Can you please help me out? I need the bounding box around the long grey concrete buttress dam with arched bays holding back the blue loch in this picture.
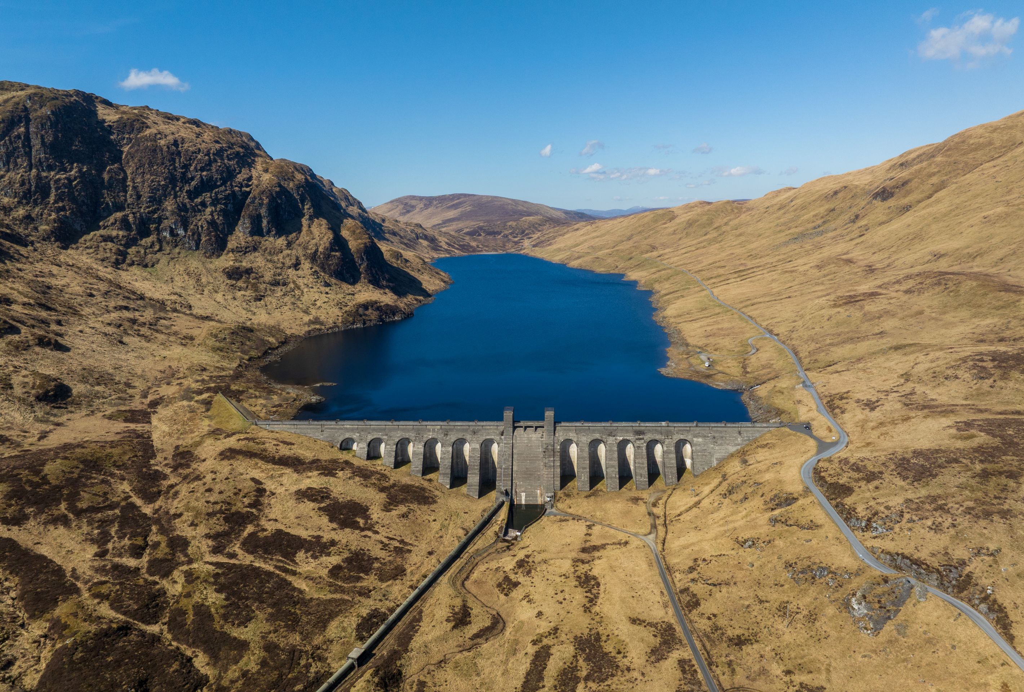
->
[250,407,784,507]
